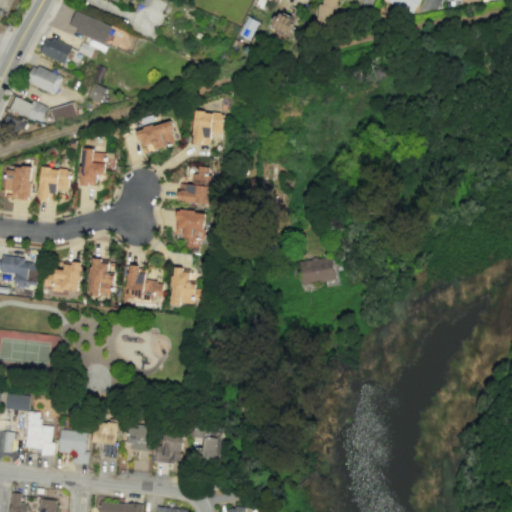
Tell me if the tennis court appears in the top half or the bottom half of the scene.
bottom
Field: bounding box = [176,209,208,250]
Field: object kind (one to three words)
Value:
house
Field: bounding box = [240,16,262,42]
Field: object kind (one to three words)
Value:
building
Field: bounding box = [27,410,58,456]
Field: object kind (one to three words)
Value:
building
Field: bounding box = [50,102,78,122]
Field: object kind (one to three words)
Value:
house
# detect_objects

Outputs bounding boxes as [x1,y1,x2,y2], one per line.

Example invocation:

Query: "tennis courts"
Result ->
[0,330,62,368]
